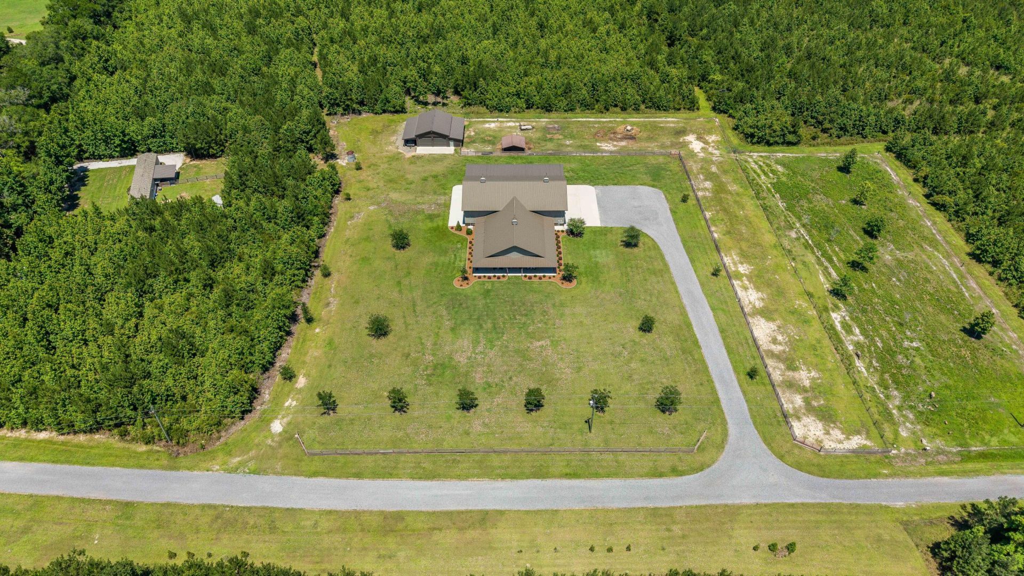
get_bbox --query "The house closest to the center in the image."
[461,164,568,276]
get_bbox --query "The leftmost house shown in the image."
[128,154,181,204]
